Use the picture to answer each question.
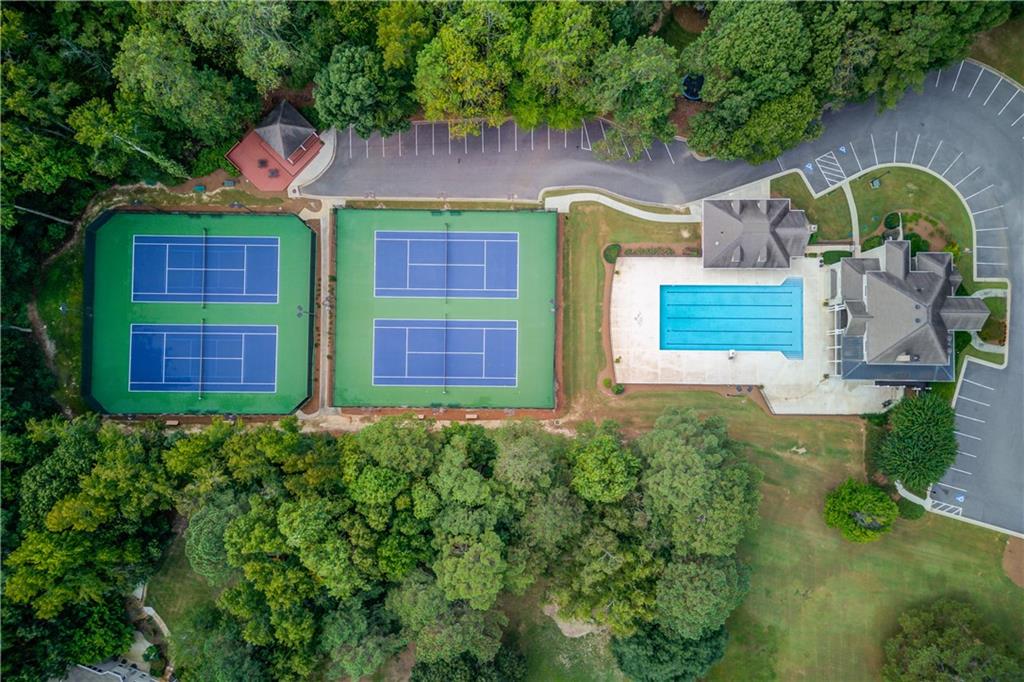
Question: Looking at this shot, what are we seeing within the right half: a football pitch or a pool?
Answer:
pool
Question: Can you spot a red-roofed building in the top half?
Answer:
No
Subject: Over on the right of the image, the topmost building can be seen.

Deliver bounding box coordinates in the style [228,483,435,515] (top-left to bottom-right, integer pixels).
[700,200,817,269]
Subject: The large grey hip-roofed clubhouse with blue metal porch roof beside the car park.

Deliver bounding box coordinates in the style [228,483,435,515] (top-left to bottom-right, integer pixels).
[825,240,991,380]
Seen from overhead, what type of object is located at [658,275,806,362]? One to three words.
swimming pool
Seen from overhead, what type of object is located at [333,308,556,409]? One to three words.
tennis court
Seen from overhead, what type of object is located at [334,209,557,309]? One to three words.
tennis court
